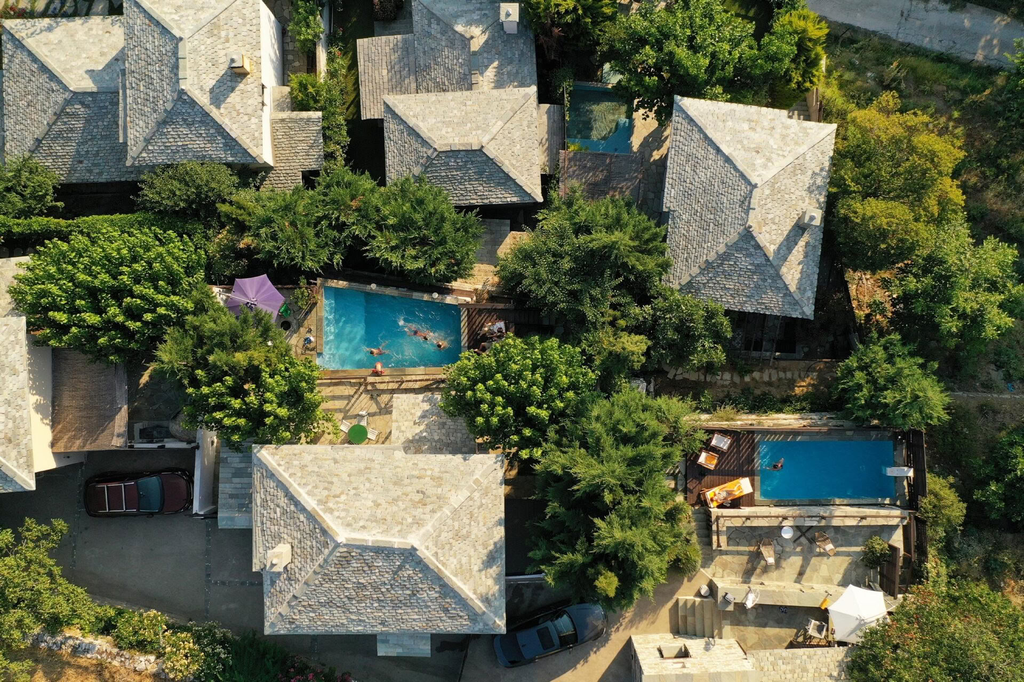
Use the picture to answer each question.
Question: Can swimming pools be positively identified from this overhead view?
Yes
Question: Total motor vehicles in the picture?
2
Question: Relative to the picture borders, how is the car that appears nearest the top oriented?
from side to side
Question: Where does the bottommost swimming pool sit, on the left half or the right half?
right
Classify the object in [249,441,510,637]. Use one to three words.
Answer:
house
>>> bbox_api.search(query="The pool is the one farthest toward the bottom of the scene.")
[752,433,909,505]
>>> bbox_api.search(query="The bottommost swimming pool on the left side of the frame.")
[317,279,475,378]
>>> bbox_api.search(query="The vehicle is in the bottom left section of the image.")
[82,470,193,524]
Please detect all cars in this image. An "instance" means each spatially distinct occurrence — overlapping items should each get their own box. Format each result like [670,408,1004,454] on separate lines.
[82,470,193,524]
[492,596,609,671]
